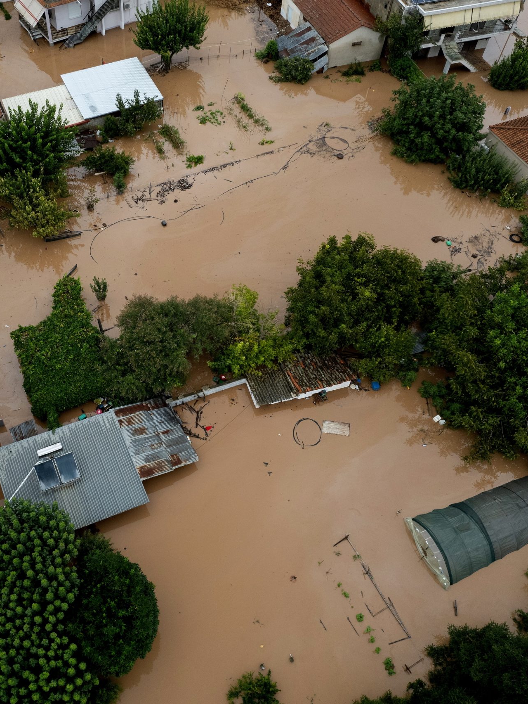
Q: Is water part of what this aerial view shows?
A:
Yes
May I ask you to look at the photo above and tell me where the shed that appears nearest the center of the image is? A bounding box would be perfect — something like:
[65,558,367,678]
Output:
[244,350,354,410]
